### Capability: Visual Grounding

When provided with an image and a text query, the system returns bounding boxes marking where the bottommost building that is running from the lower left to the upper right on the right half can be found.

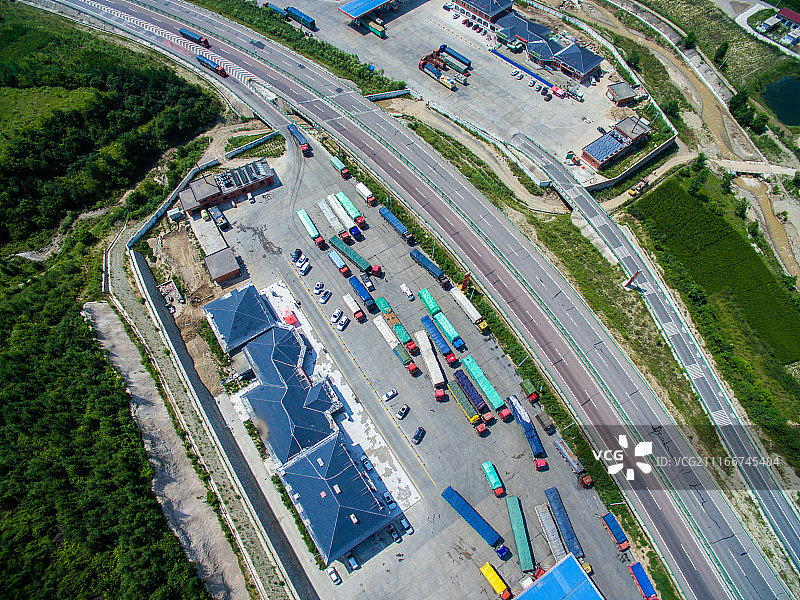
[580,115,651,172]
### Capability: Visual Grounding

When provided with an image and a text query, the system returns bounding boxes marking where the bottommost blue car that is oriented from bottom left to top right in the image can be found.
[412,427,426,445]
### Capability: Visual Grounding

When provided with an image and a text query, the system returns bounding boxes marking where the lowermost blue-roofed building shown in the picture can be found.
[202,284,391,565]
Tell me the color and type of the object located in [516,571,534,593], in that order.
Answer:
white vehicle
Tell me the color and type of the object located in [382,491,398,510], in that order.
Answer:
blue car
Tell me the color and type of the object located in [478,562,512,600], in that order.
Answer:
yellow truck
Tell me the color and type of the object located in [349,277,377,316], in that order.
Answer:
blue truck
